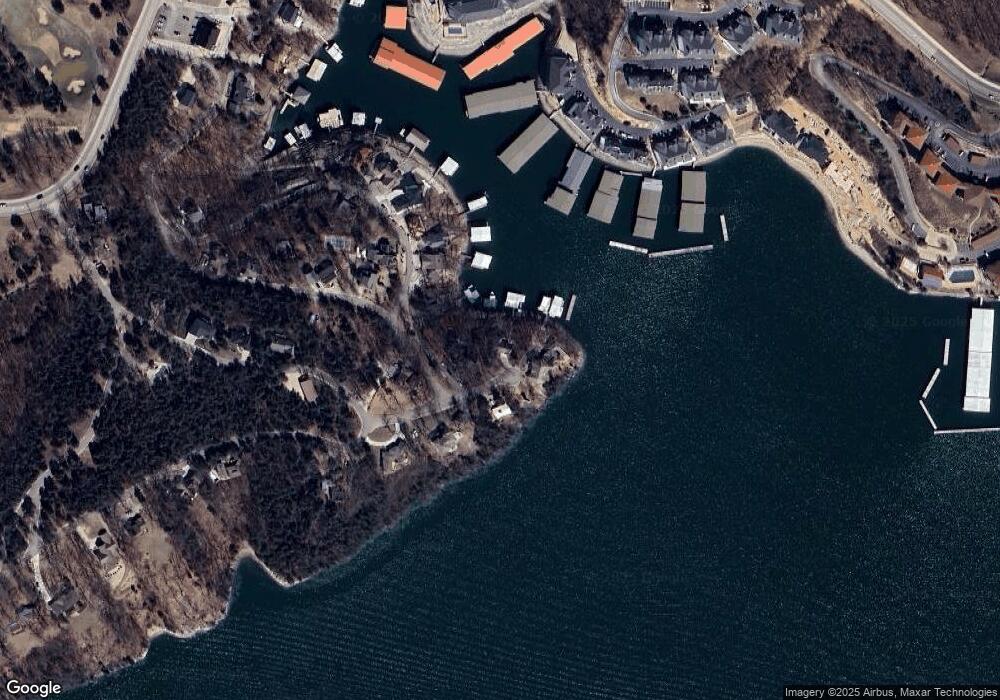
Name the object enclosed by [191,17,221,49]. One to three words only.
building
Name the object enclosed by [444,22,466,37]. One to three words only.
swimming pool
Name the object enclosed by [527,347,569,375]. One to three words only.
house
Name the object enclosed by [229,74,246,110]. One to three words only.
house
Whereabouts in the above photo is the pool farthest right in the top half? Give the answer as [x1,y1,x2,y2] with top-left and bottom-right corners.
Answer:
[947,269,978,285]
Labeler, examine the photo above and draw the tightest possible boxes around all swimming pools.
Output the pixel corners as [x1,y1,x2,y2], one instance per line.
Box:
[947,269,978,285]
[444,22,466,37]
